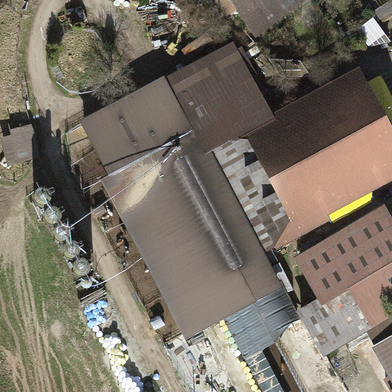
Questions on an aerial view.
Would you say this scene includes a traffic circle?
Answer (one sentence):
No, no traffic circle is visible in the view.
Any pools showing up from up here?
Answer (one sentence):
No, I find no pool anywhere in the image.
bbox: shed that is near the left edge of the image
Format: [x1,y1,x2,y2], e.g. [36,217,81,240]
[2,125,33,166]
